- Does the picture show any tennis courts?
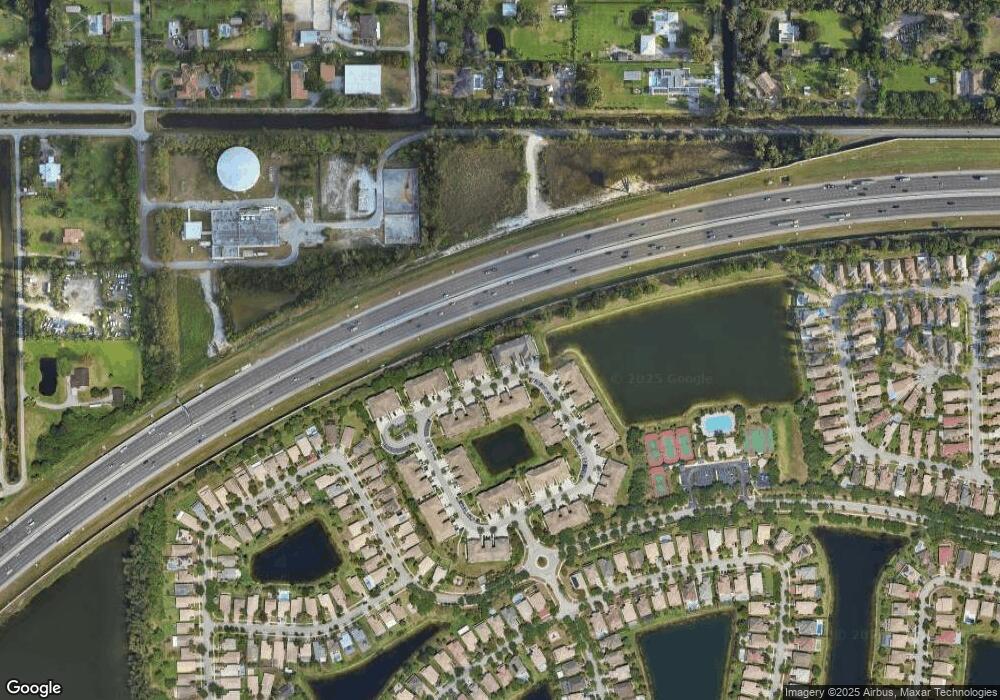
Yes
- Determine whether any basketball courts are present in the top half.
No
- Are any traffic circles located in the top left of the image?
No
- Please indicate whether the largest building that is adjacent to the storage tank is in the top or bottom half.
top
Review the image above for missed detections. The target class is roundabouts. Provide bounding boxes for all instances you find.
[527,548,556,576]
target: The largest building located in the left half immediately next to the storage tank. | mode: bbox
[211,210,278,258]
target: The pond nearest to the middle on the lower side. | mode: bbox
[476,424,533,474]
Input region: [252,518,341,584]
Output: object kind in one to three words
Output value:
pond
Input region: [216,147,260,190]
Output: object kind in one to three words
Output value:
storage tank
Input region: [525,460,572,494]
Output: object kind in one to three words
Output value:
house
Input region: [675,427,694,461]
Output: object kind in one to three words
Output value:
tennis court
